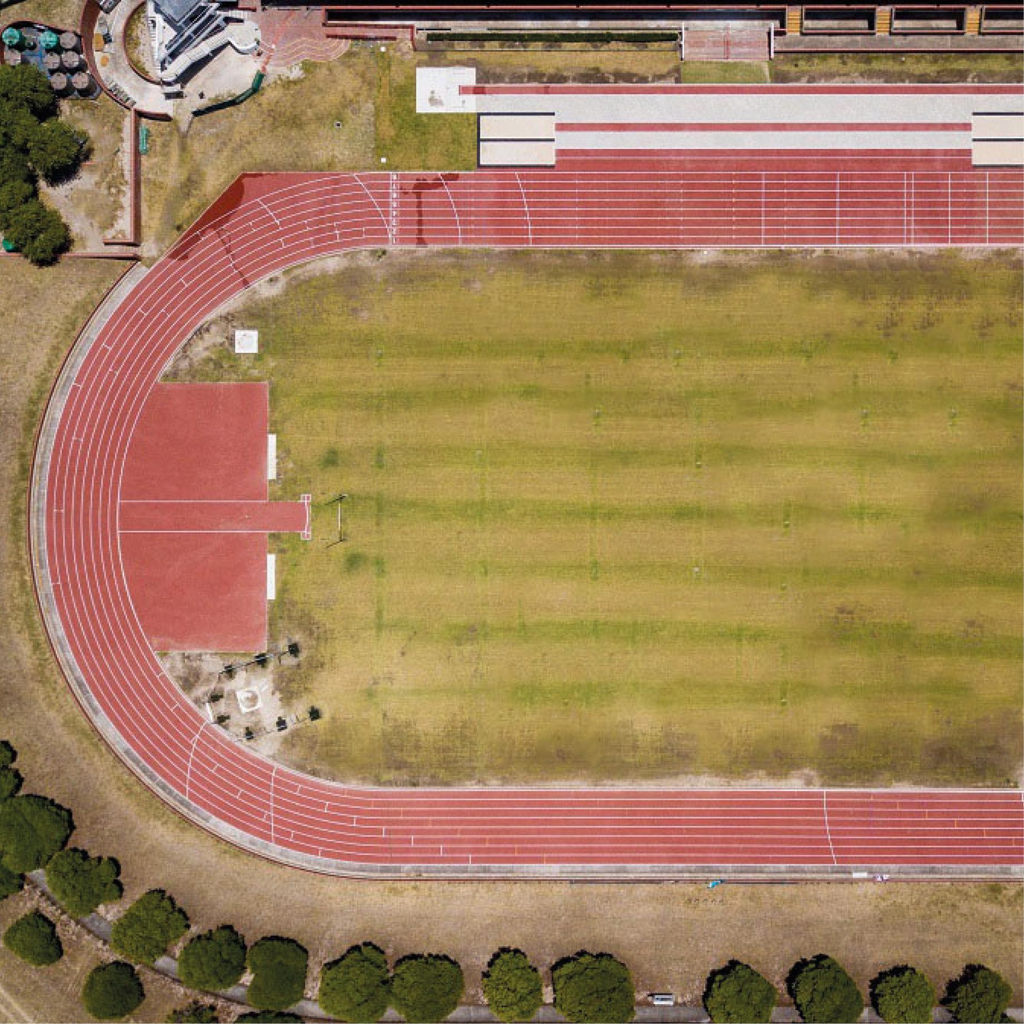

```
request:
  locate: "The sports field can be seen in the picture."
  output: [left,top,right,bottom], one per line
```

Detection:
[119,246,1024,788]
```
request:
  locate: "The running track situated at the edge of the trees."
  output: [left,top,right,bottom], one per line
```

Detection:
[45,172,1024,865]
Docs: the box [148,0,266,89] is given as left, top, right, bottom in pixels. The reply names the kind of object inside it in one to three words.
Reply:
building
